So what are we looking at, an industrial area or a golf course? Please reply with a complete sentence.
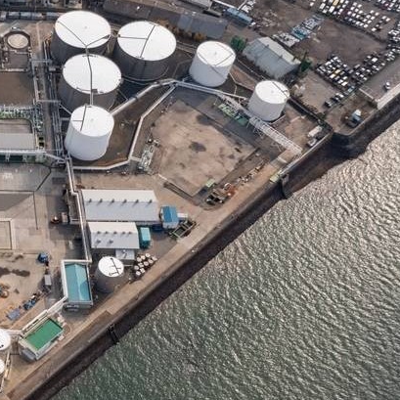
What you see here is an industrial area.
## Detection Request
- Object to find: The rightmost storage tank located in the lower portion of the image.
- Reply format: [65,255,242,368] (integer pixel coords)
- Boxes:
[92,256,126,295]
